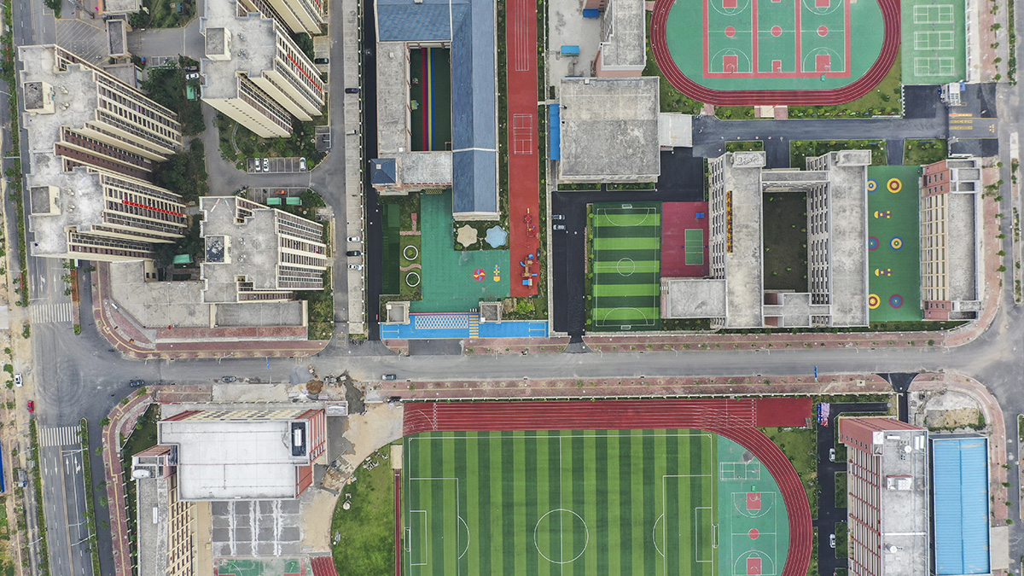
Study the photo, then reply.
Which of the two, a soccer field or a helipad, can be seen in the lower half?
soccer field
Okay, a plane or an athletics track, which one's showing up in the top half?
athletics track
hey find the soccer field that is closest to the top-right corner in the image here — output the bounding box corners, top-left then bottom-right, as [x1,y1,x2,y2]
[592,202,662,331]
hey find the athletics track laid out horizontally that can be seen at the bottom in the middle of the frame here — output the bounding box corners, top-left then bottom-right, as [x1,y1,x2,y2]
[314,398,812,576]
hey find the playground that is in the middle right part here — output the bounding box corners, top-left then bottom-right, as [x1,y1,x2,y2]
[868,166,922,322]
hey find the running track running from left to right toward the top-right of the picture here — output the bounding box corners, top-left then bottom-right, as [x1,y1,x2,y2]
[651,0,901,105]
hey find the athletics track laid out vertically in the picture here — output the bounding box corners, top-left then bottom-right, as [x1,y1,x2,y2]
[507,0,540,297]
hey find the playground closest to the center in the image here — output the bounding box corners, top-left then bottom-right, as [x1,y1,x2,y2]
[411,188,509,313]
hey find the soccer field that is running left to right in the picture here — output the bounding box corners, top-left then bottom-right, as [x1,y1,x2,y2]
[404,430,718,576]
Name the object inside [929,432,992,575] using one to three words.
shed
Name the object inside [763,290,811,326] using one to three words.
building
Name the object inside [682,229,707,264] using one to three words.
sports court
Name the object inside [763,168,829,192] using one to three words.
building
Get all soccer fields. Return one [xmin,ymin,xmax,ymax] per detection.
[592,202,662,331]
[404,430,718,576]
